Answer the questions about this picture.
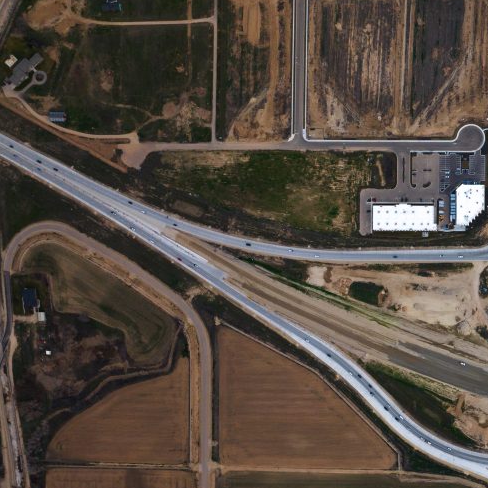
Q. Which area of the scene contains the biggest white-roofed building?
right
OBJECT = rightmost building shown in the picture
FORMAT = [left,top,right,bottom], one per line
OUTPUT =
[456,183,484,226]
